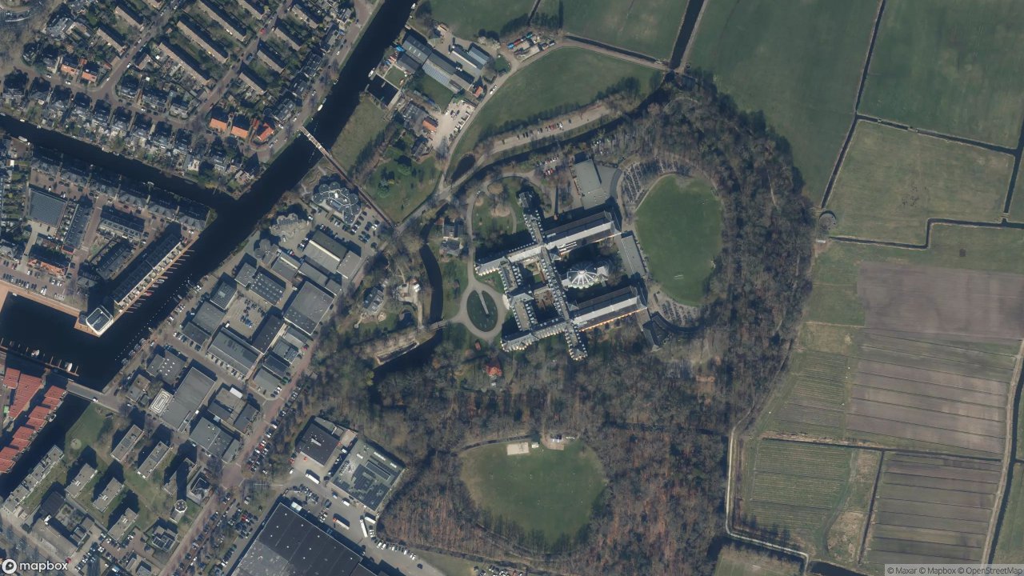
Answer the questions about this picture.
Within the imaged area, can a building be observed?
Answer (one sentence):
Yes, you can see a building in this photo.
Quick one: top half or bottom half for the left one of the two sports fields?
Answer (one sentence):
The left one of the two sports fields sits in the bottom half of the picture.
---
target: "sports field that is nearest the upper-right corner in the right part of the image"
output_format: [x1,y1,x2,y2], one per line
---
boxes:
[636,174,722,305]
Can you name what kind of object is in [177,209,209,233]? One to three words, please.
house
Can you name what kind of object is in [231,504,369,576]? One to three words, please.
building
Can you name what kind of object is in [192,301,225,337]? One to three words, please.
building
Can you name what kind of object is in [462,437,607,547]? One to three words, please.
sports field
